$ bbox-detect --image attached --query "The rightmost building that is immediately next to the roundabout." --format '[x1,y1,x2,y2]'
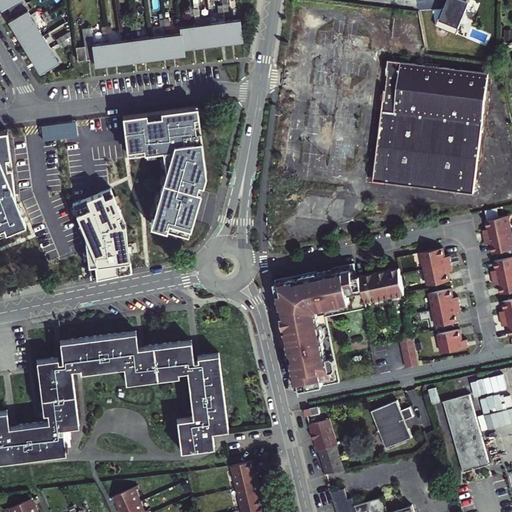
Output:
[276,270,347,390]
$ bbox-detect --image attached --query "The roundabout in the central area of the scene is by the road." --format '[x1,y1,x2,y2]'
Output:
[196,238,257,297]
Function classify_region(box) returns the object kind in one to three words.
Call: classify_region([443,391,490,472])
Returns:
shed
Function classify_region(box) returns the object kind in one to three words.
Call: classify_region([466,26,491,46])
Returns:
swimming pool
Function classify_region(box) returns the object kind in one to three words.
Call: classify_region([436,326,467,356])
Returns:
house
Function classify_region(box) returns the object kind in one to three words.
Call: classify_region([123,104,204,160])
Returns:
building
